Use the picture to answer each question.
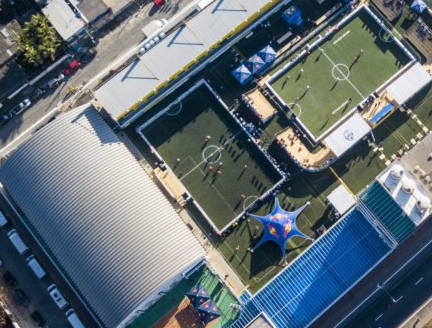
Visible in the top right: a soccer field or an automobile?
soccer field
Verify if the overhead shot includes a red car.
Yes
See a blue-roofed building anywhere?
Yes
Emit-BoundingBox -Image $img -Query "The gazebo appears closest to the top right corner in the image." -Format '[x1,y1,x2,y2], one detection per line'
[410,0,427,16]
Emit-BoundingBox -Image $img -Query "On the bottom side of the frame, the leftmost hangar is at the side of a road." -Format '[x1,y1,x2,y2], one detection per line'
[0,104,211,328]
